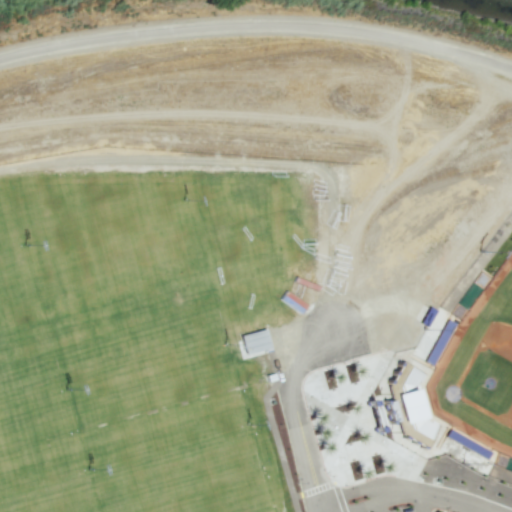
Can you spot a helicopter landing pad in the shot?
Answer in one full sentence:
No, I find no helicopter landing pad anywhere in the image.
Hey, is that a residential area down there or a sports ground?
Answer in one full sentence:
The picture captures a sports ground.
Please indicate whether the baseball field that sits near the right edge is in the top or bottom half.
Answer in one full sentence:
The baseball field that sits near the right edge sits in the bottom half of the picture.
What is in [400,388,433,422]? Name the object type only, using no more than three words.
building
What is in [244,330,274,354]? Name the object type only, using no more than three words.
shed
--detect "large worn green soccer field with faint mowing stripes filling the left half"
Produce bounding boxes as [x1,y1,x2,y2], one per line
[0,168,320,512]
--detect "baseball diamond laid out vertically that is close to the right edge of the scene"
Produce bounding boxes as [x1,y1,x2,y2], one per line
[426,256,512,460]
